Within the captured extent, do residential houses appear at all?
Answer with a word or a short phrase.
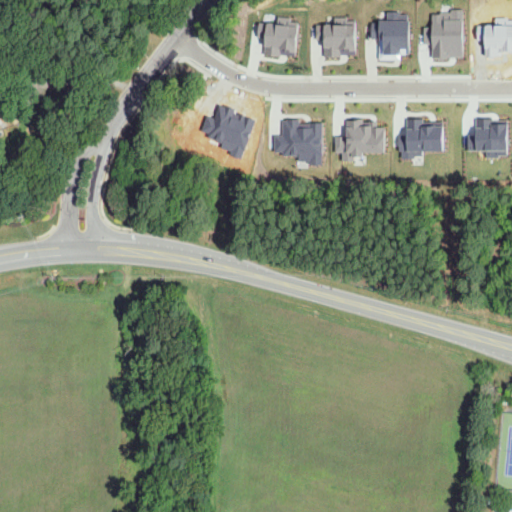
Yes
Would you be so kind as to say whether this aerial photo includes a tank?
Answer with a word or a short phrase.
No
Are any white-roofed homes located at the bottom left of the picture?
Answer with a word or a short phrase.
No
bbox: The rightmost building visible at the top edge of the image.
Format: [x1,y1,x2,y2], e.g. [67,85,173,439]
[476,18,512,57]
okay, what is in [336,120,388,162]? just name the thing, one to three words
house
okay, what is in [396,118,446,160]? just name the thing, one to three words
house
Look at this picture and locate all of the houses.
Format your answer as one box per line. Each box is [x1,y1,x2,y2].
[468,119,509,158]
[396,118,446,160]
[476,18,512,57]
[316,17,360,58]
[272,119,324,165]
[336,120,388,162]
[201,103,260,162]
[371,12,412,61]
[257,17,302,58]
[423,10,466,61]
